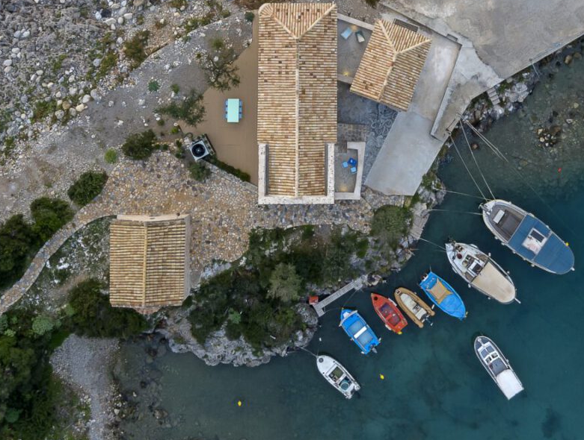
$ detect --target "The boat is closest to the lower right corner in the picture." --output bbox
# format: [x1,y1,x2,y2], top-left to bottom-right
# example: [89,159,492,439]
[473,335,523,400]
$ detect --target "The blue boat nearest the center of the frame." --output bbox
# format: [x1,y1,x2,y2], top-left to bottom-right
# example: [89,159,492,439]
[339,308,381,355]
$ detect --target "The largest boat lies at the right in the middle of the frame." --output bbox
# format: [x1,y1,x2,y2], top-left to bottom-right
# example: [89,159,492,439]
[478,200,575,275]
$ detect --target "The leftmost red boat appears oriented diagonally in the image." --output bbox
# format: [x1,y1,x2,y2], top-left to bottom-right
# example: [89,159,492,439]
[370,293,408,335]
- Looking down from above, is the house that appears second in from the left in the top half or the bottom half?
top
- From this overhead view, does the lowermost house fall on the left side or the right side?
left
